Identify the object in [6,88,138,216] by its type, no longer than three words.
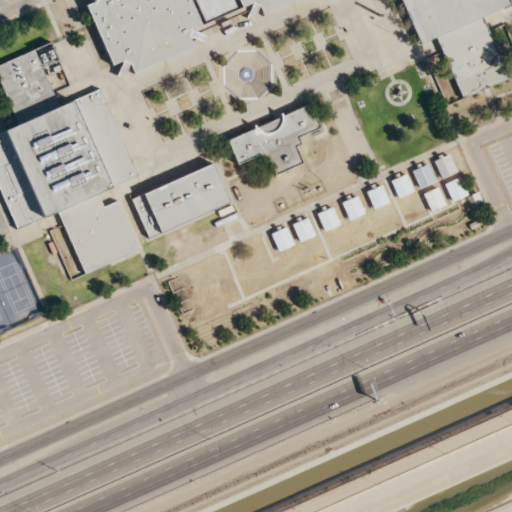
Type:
building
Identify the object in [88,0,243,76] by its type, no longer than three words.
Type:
building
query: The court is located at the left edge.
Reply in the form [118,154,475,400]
[0,251,38,328]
